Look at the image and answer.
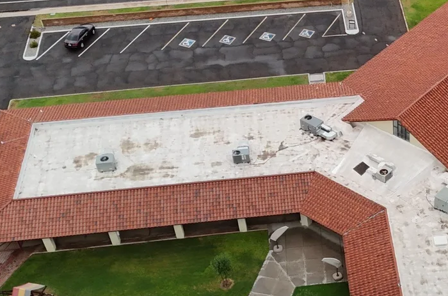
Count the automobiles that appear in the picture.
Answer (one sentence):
I count 1 automobile.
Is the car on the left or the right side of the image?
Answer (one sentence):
It is on the left.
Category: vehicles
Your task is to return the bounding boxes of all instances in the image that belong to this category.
[61,21,96,48]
